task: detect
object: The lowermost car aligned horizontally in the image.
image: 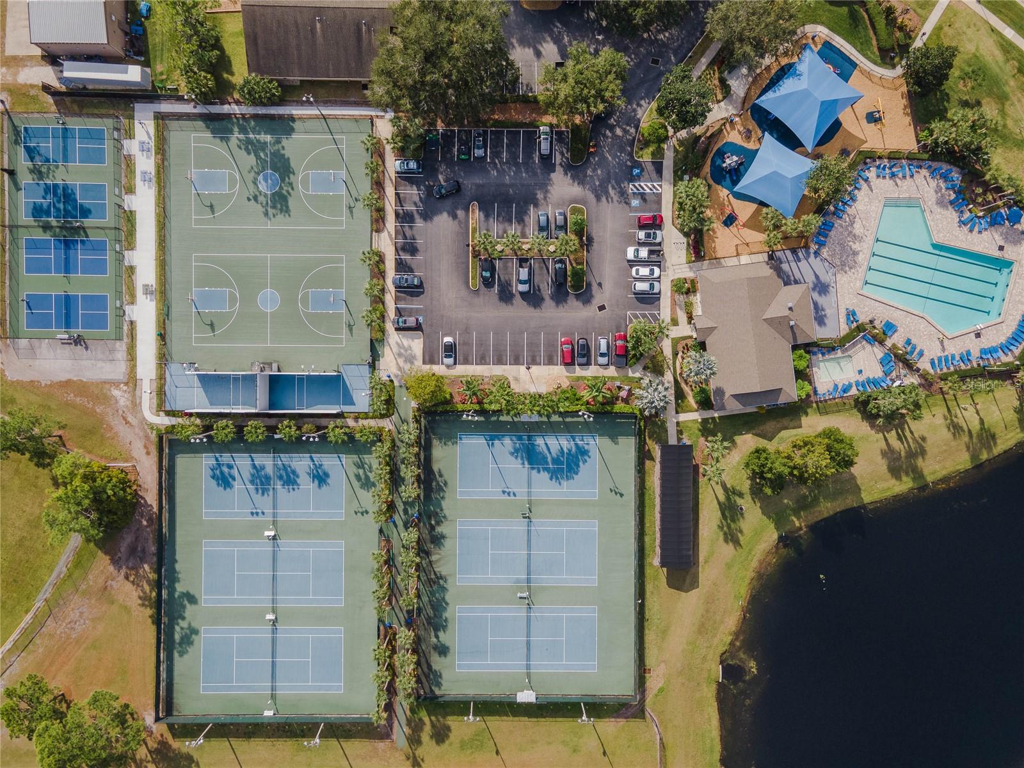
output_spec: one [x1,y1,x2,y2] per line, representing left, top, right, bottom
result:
[393,316,421,329]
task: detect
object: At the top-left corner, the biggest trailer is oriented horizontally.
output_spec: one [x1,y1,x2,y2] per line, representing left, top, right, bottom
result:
[53,60,144,87]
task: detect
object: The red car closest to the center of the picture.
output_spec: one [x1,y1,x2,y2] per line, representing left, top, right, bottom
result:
[561,338,574,365]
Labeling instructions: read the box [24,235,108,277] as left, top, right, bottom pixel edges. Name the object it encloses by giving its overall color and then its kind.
blue sports court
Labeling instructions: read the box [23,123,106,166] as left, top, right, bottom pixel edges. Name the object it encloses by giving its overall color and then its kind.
blue sports court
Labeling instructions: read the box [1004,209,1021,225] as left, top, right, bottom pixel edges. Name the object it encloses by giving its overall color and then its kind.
blue umbrella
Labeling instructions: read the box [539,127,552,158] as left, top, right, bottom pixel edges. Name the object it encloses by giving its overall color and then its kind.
gray vehicle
